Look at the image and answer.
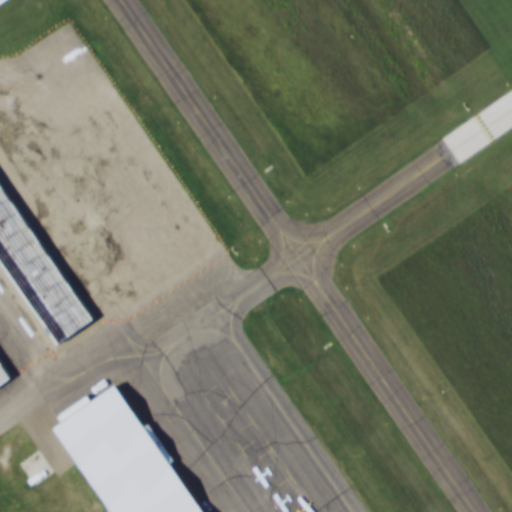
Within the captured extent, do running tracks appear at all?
No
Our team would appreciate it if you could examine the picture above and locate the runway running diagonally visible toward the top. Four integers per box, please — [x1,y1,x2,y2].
[444,90,512,164]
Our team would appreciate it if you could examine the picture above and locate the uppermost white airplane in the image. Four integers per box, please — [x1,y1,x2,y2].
[254,467,273,488]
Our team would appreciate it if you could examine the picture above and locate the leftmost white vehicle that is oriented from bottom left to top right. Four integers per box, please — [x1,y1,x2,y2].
[62,46,88,64]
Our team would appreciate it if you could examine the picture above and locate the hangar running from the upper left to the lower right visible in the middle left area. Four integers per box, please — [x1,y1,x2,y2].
[0,186,92,343]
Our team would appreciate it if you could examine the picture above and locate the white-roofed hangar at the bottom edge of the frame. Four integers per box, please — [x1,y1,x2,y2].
[52,386,202,512]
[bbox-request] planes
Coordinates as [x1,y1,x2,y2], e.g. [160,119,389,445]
[274,494,293,512]
[298,498,317,512]
[254,467,273,488]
